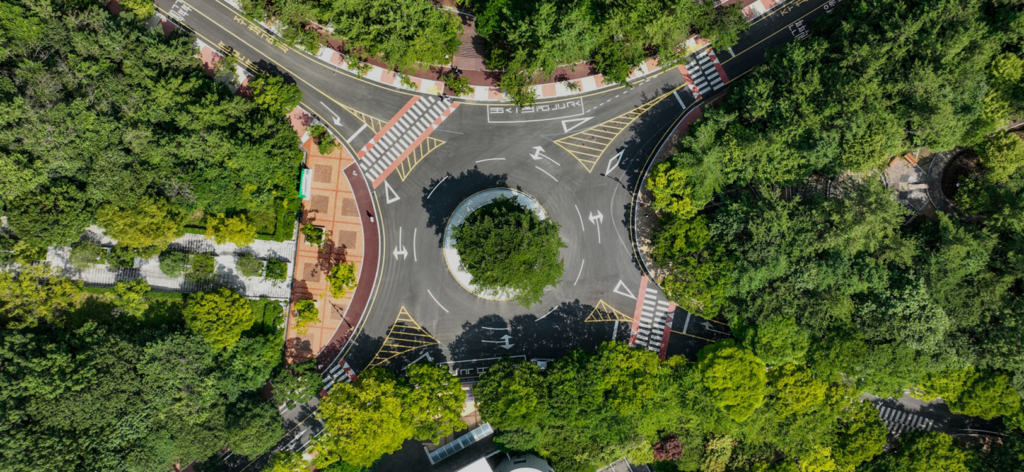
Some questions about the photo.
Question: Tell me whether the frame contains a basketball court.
No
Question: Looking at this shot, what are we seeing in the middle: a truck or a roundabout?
roundabout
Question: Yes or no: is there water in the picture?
No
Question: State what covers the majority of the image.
trees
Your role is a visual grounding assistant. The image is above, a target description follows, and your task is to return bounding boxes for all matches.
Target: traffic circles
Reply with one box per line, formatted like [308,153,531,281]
[383,126,619,362]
